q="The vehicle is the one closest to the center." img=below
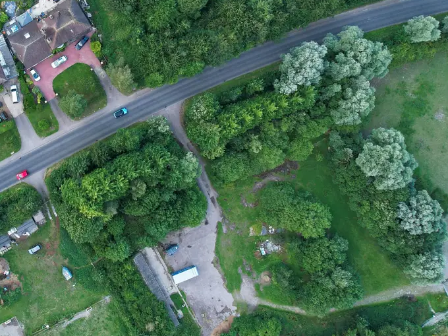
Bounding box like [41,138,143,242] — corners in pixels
[164,242,181,257]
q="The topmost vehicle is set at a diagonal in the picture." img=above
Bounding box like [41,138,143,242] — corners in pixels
[73,35,91,51]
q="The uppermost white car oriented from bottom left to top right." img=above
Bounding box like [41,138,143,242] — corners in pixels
[49,55,68,69]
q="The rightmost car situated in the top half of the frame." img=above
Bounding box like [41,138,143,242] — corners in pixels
[112,106,129,119]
